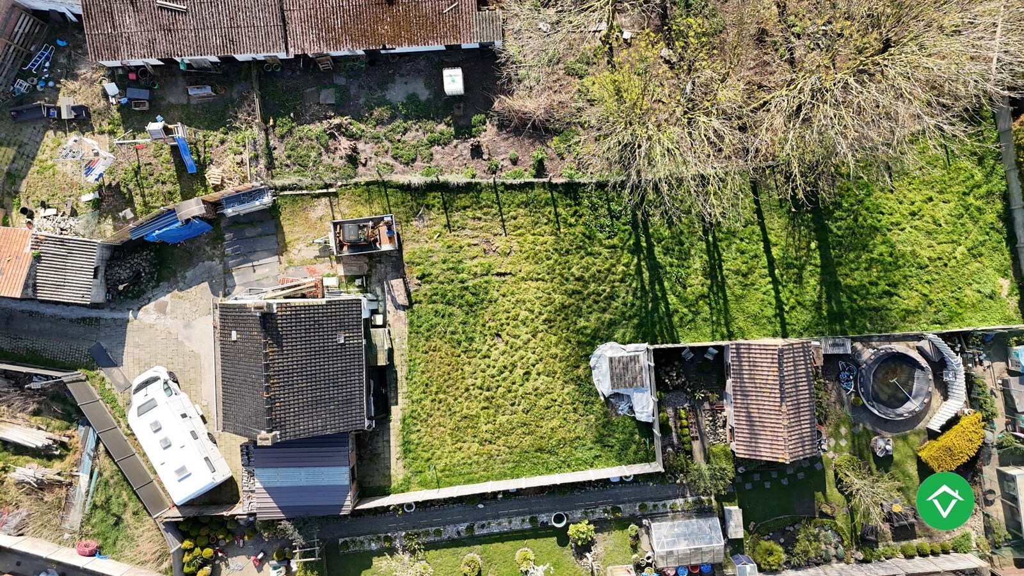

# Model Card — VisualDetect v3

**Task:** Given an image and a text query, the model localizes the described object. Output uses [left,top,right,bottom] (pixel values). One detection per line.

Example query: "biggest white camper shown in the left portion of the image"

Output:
[127,361,230,501]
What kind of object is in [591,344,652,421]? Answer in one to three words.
shed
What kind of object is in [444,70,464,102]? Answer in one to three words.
water tank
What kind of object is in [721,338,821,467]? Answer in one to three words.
house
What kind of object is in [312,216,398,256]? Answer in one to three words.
trailer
